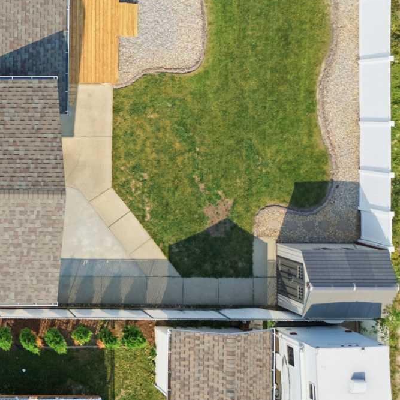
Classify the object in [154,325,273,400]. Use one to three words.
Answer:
building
